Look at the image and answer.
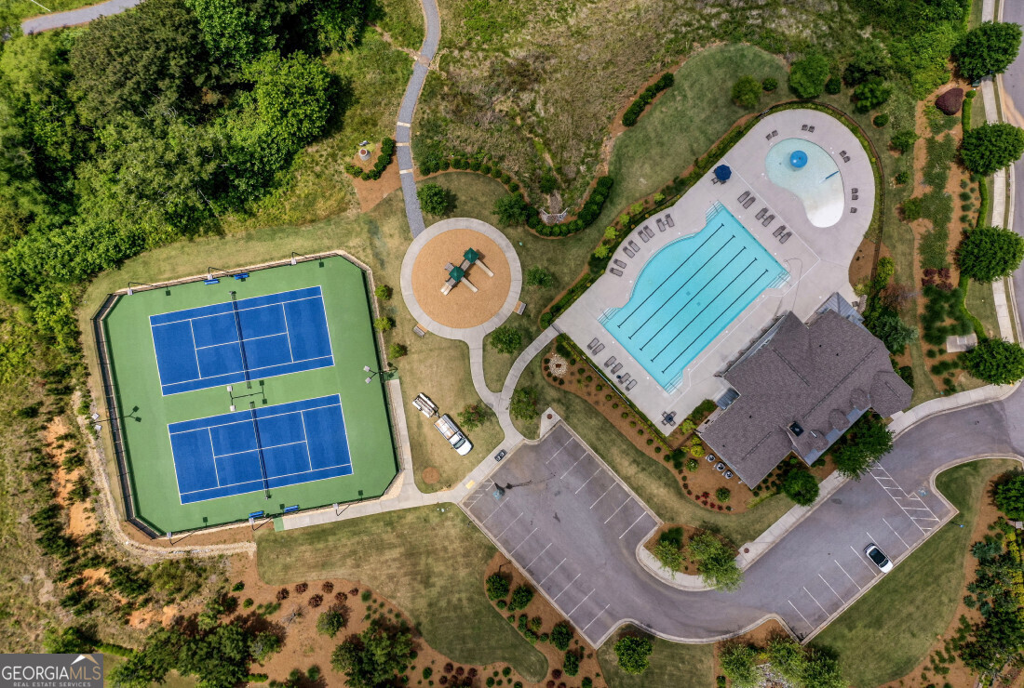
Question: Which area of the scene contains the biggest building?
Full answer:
The biggest building sits in the right section of the image.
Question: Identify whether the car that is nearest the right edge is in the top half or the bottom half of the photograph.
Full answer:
It is in the bottom half that the car that is nearest the right edge appears.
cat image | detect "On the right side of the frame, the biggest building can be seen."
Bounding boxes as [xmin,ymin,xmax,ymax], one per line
[693,292,913,489]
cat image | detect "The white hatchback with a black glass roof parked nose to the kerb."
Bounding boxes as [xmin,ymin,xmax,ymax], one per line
[862,542,892,572]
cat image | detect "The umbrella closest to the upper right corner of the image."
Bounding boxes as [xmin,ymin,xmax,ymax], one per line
[714,165,731,181]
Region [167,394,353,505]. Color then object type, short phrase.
blue tennis court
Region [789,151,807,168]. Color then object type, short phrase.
blue fountain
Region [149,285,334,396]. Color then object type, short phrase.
blue tennis court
